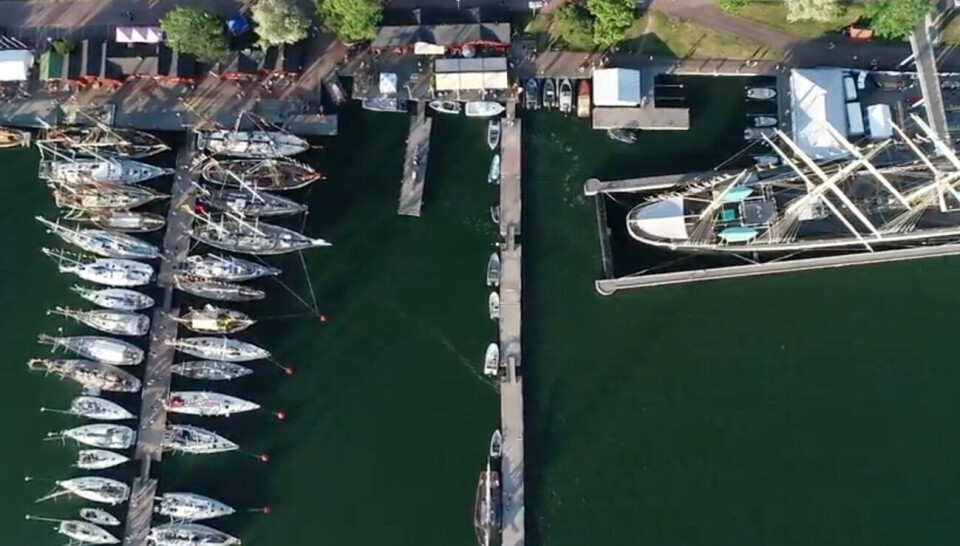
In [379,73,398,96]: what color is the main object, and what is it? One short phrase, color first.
white tent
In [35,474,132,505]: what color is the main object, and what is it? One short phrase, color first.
white boat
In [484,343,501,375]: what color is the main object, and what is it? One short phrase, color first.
white boat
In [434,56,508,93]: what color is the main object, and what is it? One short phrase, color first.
white tent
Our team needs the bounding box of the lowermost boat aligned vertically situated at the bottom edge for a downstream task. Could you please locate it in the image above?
[475,456,503,546]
